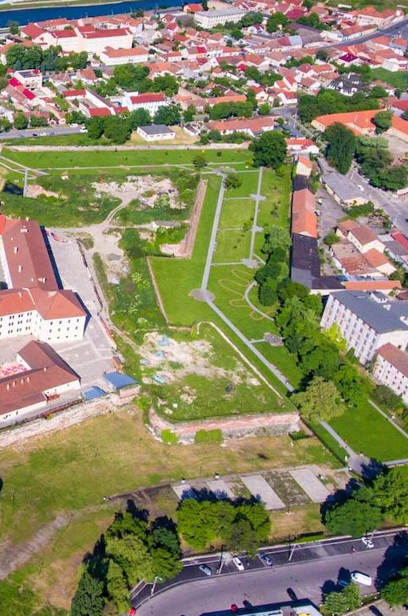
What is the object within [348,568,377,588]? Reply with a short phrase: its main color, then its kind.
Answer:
white vehicle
